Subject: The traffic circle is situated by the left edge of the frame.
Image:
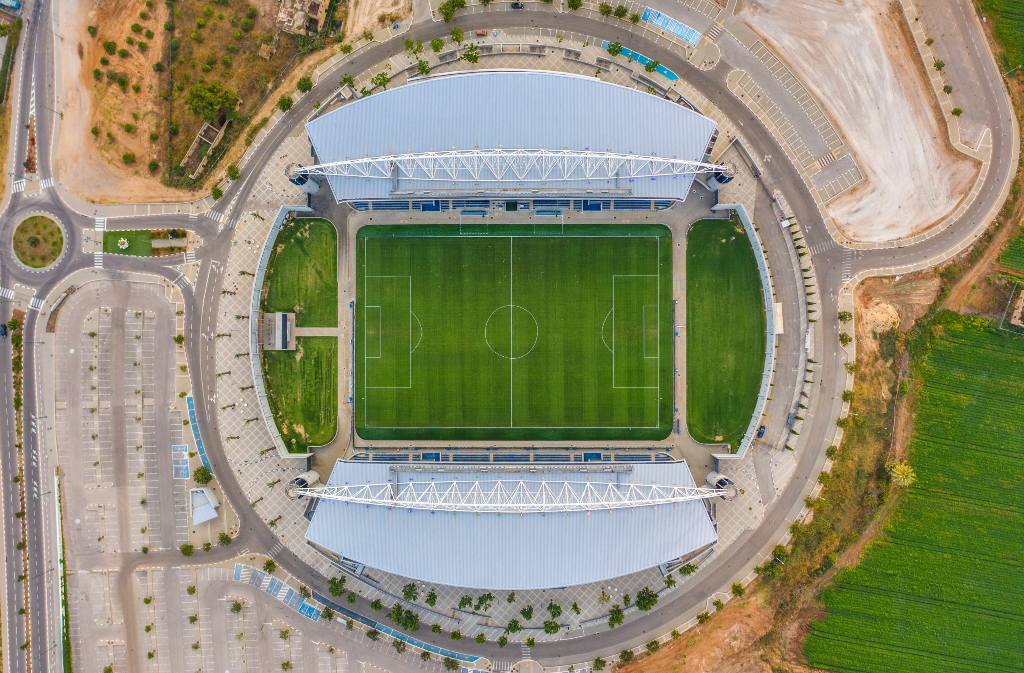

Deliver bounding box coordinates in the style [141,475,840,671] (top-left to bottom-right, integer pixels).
[7,211,69,273]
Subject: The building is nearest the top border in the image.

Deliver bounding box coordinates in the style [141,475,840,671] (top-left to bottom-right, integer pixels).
[276,0,327,38]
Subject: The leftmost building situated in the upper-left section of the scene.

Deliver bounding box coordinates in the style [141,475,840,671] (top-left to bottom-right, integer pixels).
[177,120,228,178]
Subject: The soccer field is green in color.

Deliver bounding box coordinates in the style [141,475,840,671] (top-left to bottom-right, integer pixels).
[356,225,673,440]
